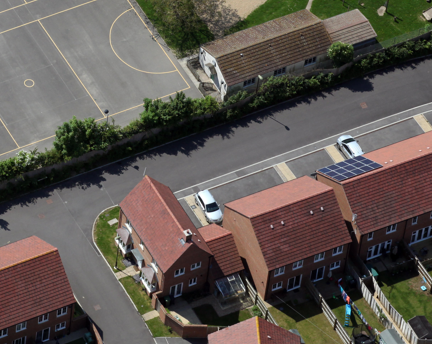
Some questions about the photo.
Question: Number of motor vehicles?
two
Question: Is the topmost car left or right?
right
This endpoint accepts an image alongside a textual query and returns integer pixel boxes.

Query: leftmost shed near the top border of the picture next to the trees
[198,8,332,99]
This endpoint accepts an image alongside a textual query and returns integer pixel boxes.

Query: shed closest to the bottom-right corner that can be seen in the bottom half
[407,316,432,339]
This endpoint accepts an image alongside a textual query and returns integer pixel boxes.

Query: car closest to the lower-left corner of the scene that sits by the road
[193,187,225,224]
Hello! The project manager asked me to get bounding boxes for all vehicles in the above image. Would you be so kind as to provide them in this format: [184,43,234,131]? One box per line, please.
[333,131,365,158]
[193,187,225,224]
